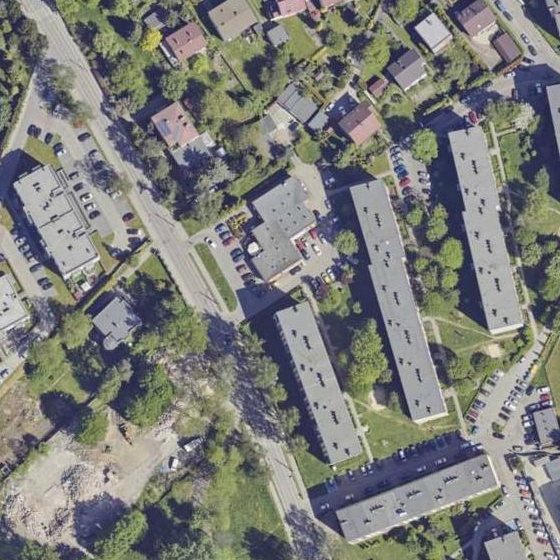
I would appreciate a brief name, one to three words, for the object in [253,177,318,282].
building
